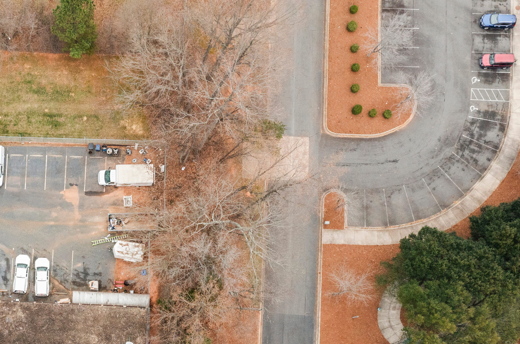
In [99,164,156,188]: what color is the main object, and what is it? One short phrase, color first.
white truck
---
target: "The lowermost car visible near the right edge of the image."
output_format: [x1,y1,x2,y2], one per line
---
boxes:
[478,52,520,70]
